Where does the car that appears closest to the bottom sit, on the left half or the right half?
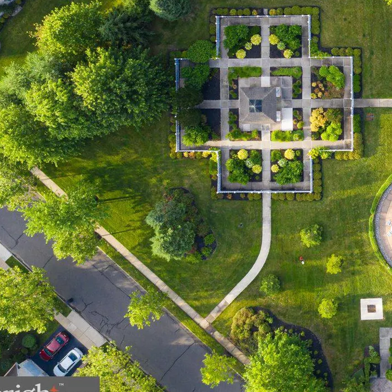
left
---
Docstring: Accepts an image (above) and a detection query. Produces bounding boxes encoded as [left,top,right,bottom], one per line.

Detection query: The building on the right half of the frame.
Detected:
[240,87,282,125]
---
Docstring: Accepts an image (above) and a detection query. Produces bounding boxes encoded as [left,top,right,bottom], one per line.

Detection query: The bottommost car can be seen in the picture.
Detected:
[53,347,84,378]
